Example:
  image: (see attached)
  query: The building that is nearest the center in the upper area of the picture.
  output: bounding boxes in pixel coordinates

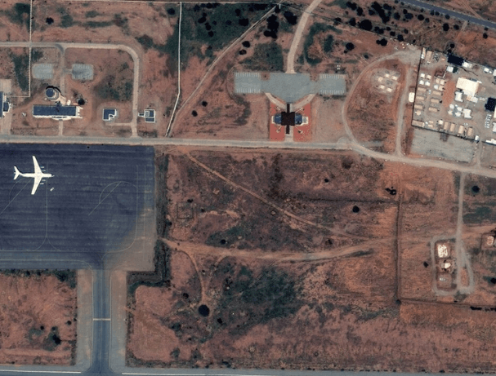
[271,104,309,134]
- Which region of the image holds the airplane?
left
